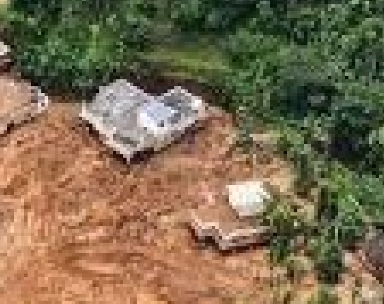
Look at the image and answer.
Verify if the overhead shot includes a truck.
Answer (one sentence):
No, there isn't any truck down there.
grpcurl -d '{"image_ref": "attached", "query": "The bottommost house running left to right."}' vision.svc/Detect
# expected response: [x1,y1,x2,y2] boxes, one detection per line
[189,201,271,248]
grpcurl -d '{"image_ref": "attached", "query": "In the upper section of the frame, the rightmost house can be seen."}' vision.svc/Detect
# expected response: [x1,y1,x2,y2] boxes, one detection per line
[84,77,205,163]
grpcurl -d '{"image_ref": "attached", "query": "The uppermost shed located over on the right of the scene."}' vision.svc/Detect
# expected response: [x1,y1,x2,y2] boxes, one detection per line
[225,181,276,219]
